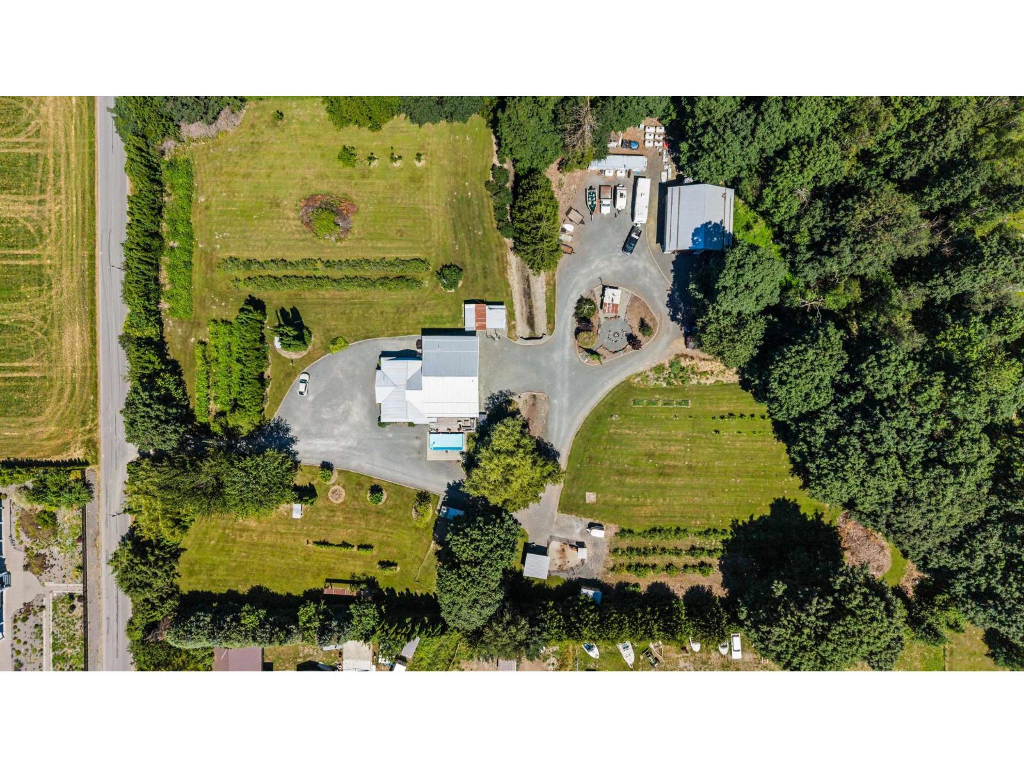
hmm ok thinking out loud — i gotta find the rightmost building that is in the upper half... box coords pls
[664,184,733,257]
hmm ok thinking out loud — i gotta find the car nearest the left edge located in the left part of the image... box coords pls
[297,372,309,396]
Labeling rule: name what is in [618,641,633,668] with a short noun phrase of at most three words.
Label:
boat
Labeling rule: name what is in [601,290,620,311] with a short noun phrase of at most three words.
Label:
shed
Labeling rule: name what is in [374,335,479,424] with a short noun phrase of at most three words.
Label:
house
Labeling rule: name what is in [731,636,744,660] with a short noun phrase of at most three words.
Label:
vehicle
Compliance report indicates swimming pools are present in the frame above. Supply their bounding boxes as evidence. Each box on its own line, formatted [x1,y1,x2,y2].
[427,432,466,461]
